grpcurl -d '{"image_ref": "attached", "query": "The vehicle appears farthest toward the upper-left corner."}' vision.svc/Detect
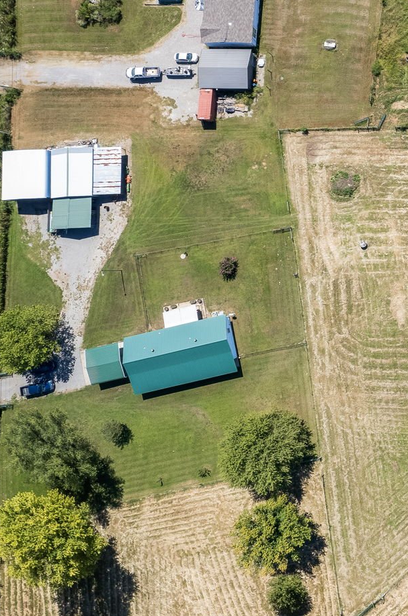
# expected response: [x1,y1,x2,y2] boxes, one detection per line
[126,65,159,79]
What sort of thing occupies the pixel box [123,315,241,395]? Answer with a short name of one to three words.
house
